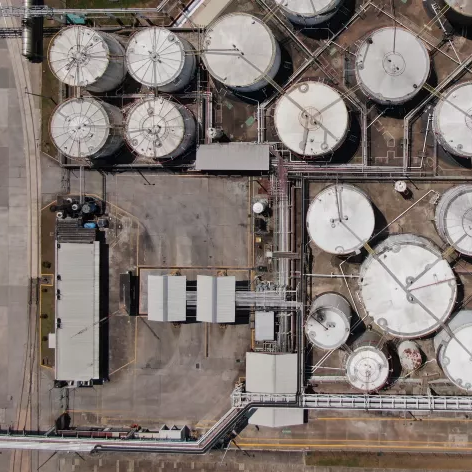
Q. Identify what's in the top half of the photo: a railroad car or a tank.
tank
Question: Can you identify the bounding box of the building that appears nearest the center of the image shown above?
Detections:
[255,309,274,340]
